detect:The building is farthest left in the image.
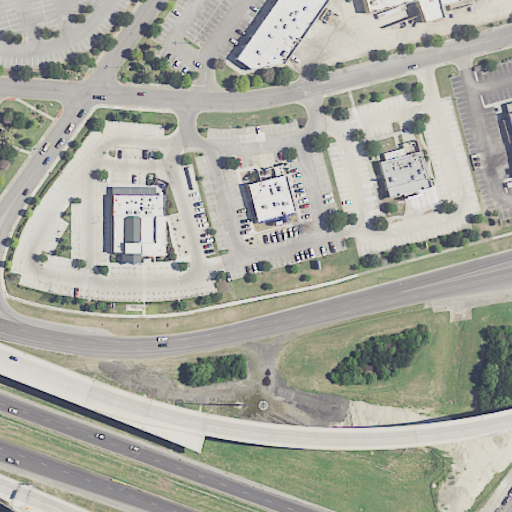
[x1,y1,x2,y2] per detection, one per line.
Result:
[109,186,166,263]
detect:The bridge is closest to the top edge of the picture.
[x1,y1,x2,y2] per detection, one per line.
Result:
[0,342,512,454]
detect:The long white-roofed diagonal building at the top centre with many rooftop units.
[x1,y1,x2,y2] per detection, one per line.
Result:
[234,0,328,69]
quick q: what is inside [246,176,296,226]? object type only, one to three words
building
